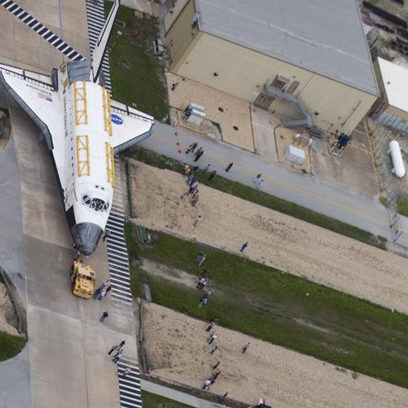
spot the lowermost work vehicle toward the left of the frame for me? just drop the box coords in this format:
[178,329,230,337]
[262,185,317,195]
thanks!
[70,257,96,304]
